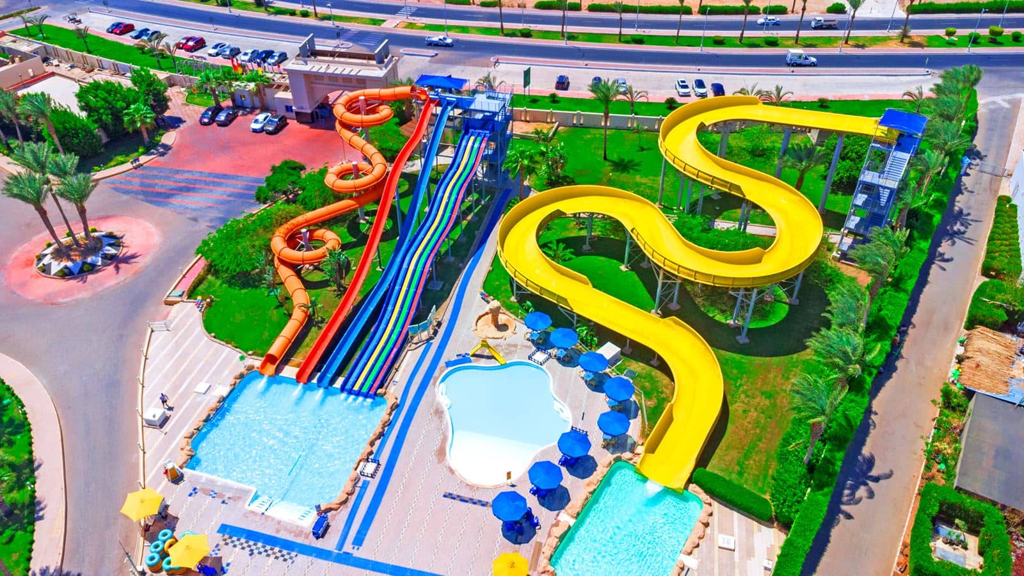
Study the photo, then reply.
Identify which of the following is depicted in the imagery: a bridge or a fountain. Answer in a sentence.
The one in the frame is a fountain.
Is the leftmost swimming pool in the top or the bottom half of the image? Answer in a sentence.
It is in the bottom half that the leftmost swimming pool appears.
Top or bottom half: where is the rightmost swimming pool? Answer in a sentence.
It is in the bottom half that the rightmost swimming pool appears.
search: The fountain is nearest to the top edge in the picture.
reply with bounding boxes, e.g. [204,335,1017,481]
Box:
[473,301,517,340]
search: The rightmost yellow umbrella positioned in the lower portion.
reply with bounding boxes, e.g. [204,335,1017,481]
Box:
[491,551,533,576]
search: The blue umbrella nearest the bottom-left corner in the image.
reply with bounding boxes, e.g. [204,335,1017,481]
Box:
[491,491,529,529]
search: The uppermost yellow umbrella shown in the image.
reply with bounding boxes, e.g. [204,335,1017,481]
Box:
[117,485,167,527]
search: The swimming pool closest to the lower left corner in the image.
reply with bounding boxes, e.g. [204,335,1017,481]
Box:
[183,370,388,527]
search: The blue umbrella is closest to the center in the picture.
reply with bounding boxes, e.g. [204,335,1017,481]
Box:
[524,314,552,332]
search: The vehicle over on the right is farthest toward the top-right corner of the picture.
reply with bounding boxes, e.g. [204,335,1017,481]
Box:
[809,13,844,28]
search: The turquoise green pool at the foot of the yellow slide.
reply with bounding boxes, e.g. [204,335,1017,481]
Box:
[549,461,701,576]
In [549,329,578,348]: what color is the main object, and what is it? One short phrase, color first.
blue umbrella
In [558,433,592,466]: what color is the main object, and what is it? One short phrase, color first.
blue umbrella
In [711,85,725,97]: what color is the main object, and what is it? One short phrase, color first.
blue vehicle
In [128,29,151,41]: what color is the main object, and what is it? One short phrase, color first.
blue vehicle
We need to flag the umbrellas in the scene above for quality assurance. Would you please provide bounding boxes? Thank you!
[117,485,167,527]
[524,314,552,332]
[527,463,564,499]
[491,491,529,529]
[549,329,578,348]
[558,433,592,466]
[491,551,533,576]
[578,353,608,376]
[160,531,213,575]
[604,379,635,403]
[597,413,630,437]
